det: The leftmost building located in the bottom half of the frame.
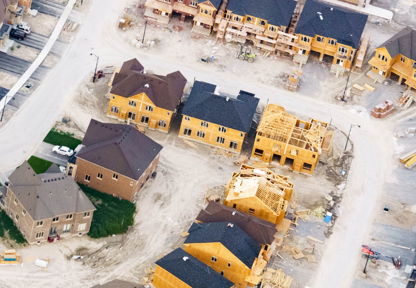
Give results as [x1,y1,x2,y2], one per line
[4,160,95,242]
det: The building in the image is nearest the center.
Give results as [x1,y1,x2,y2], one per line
[180,77,260,153]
